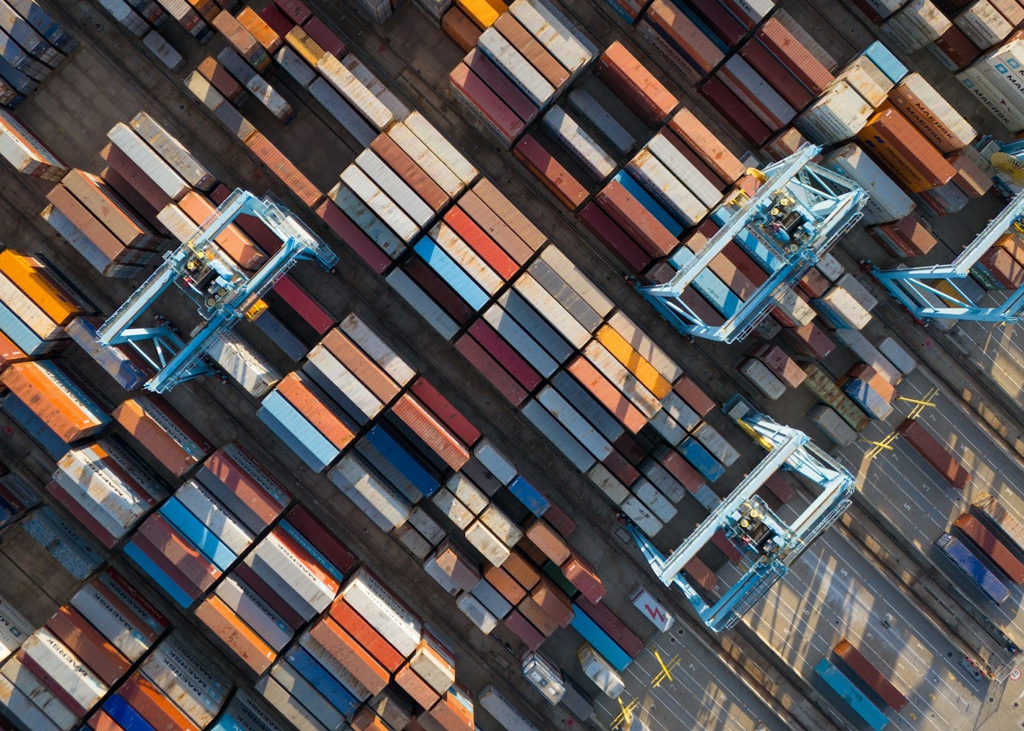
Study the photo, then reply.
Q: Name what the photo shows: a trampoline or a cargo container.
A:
cargo container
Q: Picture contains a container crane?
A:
Yes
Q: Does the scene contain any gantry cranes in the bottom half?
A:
Yes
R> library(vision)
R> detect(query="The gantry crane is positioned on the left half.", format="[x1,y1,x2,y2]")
[94,177,346,392]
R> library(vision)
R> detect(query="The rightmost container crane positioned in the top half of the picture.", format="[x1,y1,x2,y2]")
[978,129,1024,176]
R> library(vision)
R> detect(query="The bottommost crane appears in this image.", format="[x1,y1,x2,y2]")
[619,398,860,631]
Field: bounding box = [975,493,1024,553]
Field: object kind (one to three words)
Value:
shipping container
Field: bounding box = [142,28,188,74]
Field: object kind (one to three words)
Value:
shipping container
